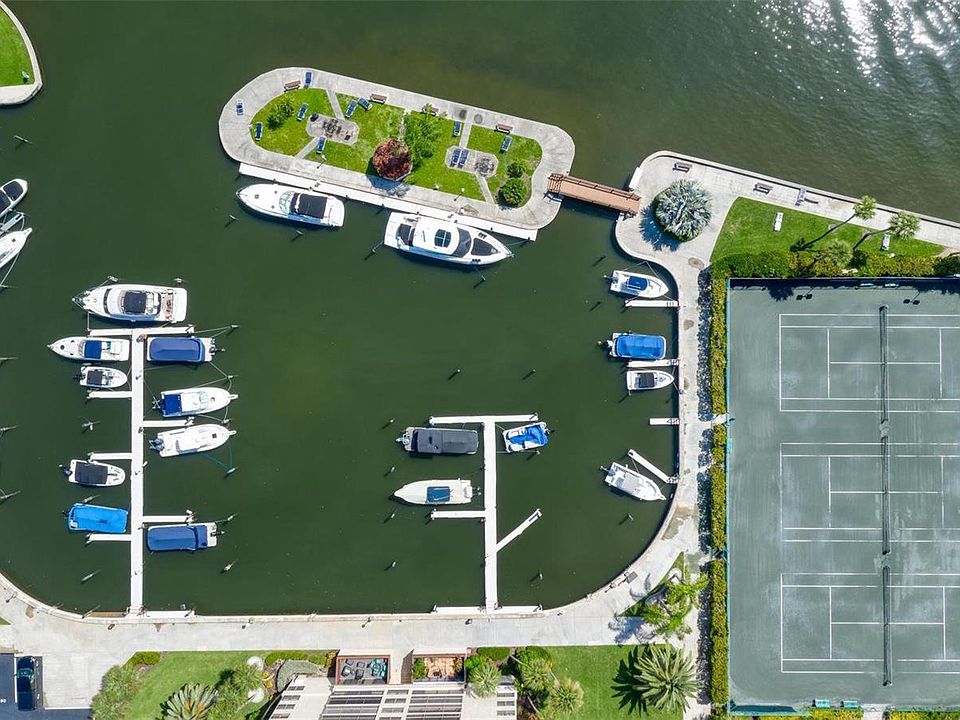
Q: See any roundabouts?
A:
No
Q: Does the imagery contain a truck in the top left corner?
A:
No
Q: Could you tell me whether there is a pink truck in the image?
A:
No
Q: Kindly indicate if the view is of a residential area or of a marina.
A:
marina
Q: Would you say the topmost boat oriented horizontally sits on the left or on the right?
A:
left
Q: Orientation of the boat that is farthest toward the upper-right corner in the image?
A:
from side to side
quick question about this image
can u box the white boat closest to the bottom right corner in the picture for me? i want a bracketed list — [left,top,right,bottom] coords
[602,463,666,501]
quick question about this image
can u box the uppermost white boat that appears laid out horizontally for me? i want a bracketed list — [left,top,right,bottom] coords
[234,182,347,224]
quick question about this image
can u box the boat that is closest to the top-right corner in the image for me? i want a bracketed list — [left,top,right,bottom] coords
[604,271,668,295]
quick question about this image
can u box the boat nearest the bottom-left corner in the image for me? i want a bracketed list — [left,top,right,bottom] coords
[64,502,131,533]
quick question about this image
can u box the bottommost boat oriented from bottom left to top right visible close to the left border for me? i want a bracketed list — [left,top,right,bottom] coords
[0,229,29,276]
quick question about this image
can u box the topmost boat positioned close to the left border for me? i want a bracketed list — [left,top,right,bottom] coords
[0,181,28,223]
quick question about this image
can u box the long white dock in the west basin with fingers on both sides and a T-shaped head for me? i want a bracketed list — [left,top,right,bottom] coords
[89,325,196,616]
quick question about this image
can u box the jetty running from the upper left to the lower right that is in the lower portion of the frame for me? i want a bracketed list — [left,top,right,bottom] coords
[629,449,677,484]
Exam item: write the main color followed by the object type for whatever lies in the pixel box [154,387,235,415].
white boat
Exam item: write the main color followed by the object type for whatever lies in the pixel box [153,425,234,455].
white boat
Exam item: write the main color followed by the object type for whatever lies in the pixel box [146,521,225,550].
blue boat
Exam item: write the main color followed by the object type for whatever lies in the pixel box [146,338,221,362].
blue boat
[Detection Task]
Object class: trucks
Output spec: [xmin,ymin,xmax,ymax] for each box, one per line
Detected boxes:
[14,655,39,709]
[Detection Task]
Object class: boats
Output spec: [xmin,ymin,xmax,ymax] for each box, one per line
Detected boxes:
[153,425,234,455]
[70,281,190,320]
[146,521,225,550]
[73,368,128,388]
[146,338,221,362]
[62,460,126,486]
[503,421,551,448]
[395,480,479,505]
[0,229,29,276]
[234,182,347,224]
[45,336,131,361]
[602,463,666,501]
[64,502,131,533]
[606,334,667,359]
[604,271,668,295]
[624,369,674,389]
[382,211,517,262]
[401,427,478,454]
[154,387,235,415]
[0,181,28,223]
